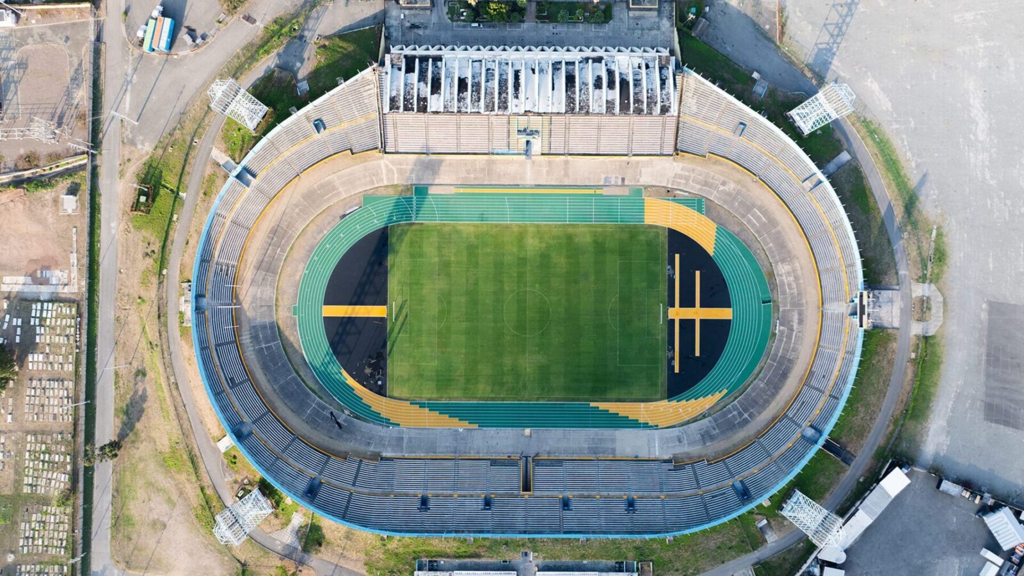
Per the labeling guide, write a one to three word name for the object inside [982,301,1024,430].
sports court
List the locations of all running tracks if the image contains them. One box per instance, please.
[293,186,772,429]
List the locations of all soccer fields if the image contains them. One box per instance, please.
[387,223,667,400]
